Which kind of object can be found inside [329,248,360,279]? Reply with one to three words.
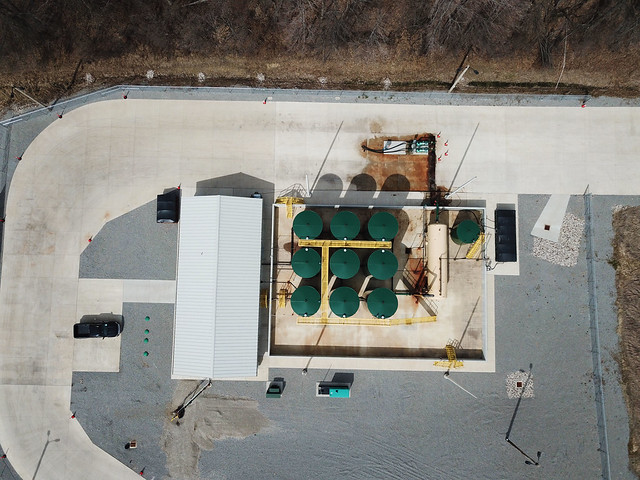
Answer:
storage tank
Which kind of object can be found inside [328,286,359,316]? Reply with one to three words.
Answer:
storage tank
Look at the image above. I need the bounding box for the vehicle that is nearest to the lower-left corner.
[73,318,124,338]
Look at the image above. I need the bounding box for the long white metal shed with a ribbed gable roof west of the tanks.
[172,194,264,380]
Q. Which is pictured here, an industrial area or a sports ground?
industrial area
